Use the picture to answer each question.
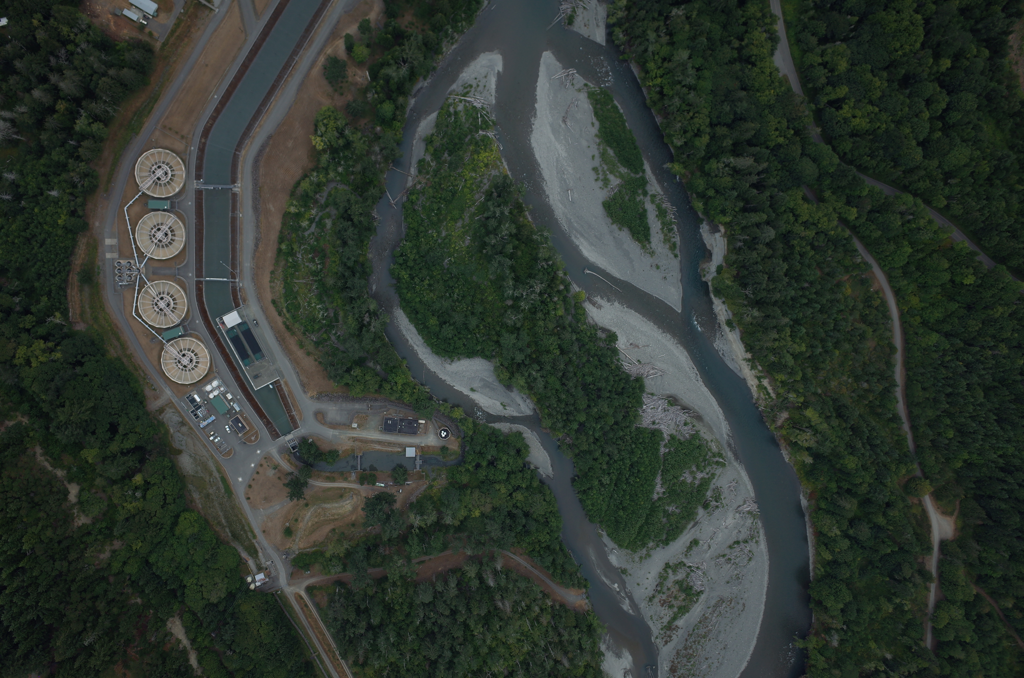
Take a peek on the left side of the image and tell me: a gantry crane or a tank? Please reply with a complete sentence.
The feature located on the left side of the image is a tank.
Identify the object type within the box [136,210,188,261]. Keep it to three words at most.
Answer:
storage tank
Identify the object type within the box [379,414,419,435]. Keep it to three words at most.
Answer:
building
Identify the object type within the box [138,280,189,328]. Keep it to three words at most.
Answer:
storage tank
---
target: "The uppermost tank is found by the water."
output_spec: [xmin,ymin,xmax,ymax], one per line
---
[135,148,187,199]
